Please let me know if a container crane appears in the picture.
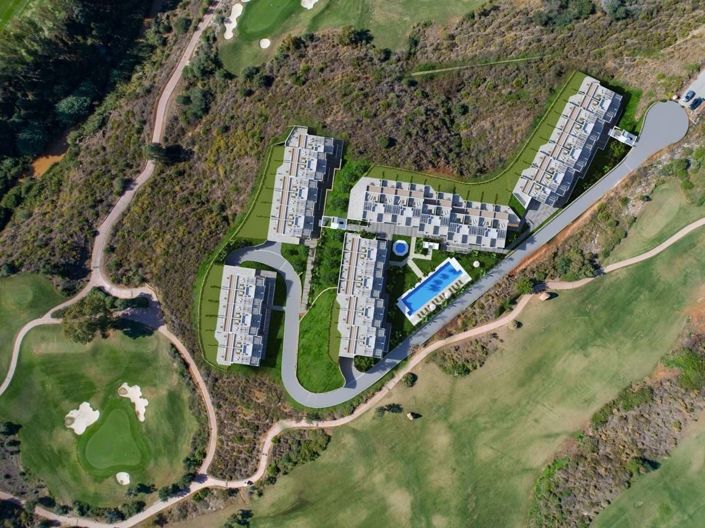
No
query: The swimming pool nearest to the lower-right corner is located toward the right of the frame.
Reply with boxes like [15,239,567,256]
[397,257,470,325]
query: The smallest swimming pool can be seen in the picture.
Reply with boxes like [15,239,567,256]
[393,240,408,254]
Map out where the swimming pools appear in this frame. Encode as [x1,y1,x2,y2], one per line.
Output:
[397,257,470,325]
[393,240,408,254]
